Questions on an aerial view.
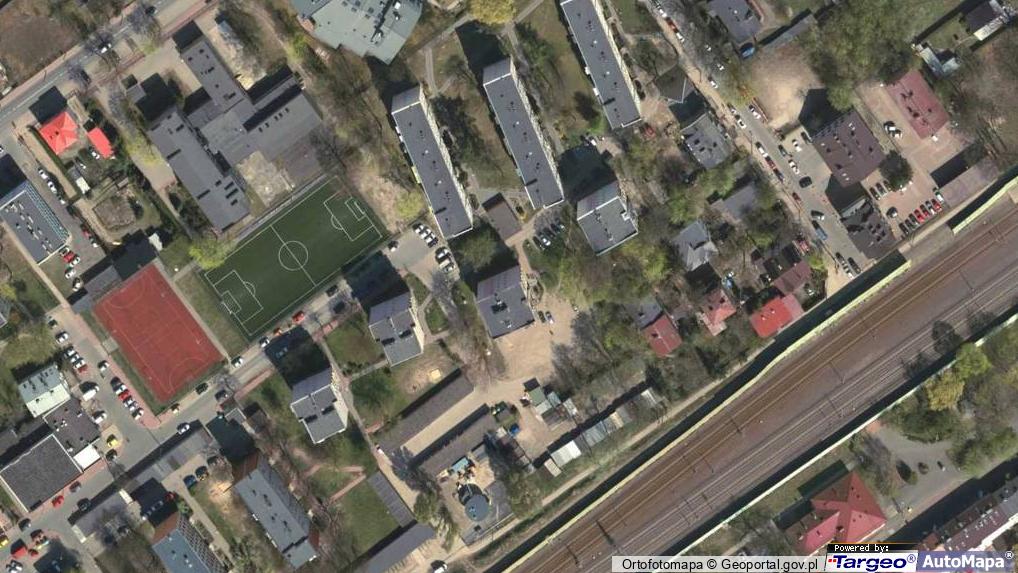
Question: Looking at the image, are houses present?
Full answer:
Yes, the frame does contain a house.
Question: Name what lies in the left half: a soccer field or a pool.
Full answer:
You can see a soccer field in the left half.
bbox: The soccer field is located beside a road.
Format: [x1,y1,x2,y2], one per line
[200,172,389,343]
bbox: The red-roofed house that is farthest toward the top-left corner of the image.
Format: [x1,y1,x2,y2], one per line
[40,108,80,154]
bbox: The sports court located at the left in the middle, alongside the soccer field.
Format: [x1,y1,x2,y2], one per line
[93,265,222,404]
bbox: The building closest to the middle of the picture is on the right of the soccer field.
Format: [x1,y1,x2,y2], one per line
[478,270,534,338]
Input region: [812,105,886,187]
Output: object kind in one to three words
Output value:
building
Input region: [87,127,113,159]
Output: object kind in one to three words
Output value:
shed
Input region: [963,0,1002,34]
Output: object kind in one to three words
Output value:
house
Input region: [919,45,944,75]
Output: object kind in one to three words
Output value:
shed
